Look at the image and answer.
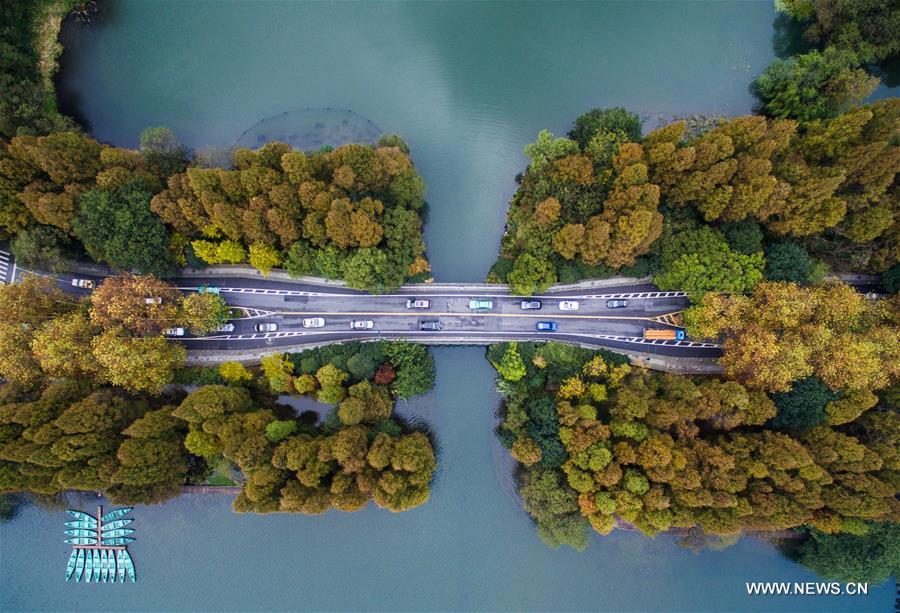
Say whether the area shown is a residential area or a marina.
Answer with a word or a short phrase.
marina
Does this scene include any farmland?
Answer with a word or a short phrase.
No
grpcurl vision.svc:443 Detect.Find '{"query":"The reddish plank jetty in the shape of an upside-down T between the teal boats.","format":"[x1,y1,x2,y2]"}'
[72,506,127,551]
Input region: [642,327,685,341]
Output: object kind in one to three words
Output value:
vehicle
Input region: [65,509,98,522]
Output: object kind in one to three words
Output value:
boat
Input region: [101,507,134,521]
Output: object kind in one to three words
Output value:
boat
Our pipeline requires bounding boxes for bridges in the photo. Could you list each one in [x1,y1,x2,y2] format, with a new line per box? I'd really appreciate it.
[403,281,533,347]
